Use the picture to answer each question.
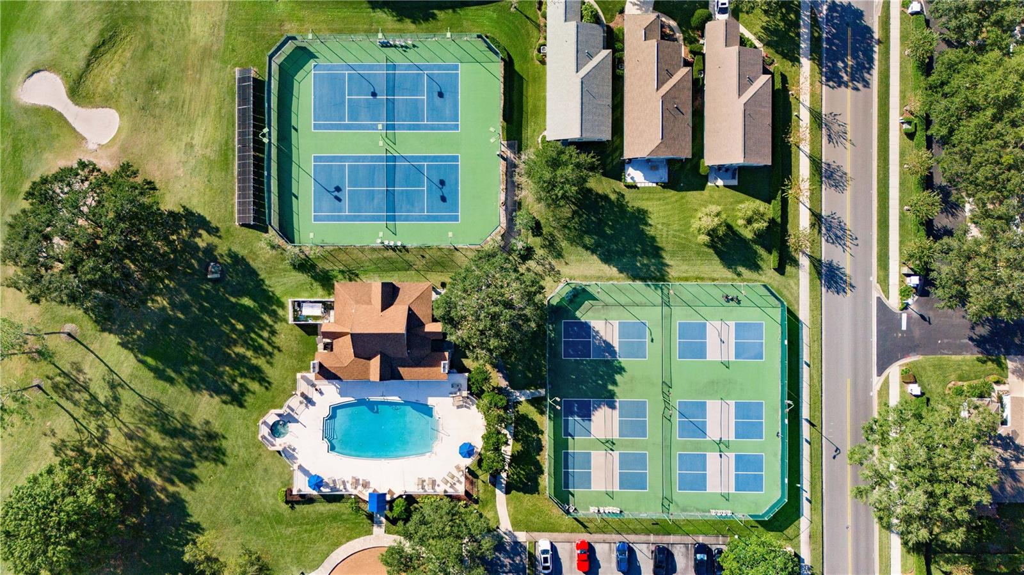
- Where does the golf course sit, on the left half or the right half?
left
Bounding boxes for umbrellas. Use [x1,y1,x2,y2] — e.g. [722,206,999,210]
[307,474,324,491]
[459,442,476,459]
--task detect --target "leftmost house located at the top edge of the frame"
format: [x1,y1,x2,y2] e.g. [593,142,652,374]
[546,0,613,141]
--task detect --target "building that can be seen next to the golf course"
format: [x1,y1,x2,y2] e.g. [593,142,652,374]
[310,281,451,384]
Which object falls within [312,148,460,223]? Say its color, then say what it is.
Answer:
blue tennis court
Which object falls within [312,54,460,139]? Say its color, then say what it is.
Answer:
blue tennis court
